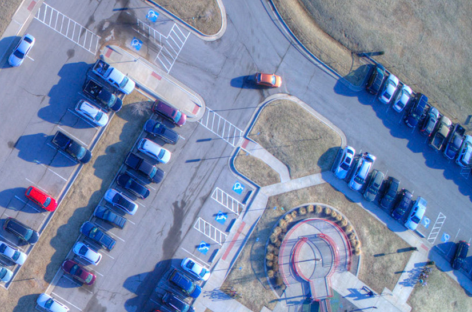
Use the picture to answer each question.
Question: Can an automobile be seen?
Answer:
Yes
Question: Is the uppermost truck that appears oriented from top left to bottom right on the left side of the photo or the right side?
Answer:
left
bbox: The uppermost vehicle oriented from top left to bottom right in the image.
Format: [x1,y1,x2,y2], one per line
[91,59,135,94]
